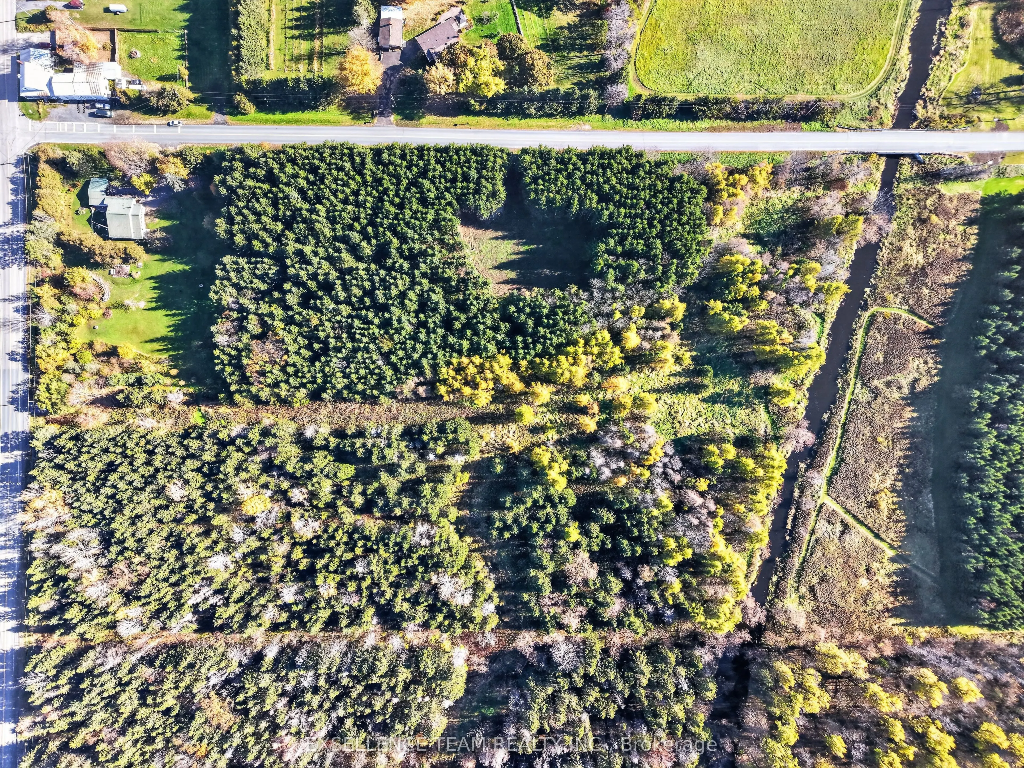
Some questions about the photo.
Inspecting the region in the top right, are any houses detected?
No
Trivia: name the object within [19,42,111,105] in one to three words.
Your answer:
house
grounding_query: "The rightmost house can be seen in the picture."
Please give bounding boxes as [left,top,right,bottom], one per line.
[415,14,462,66]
